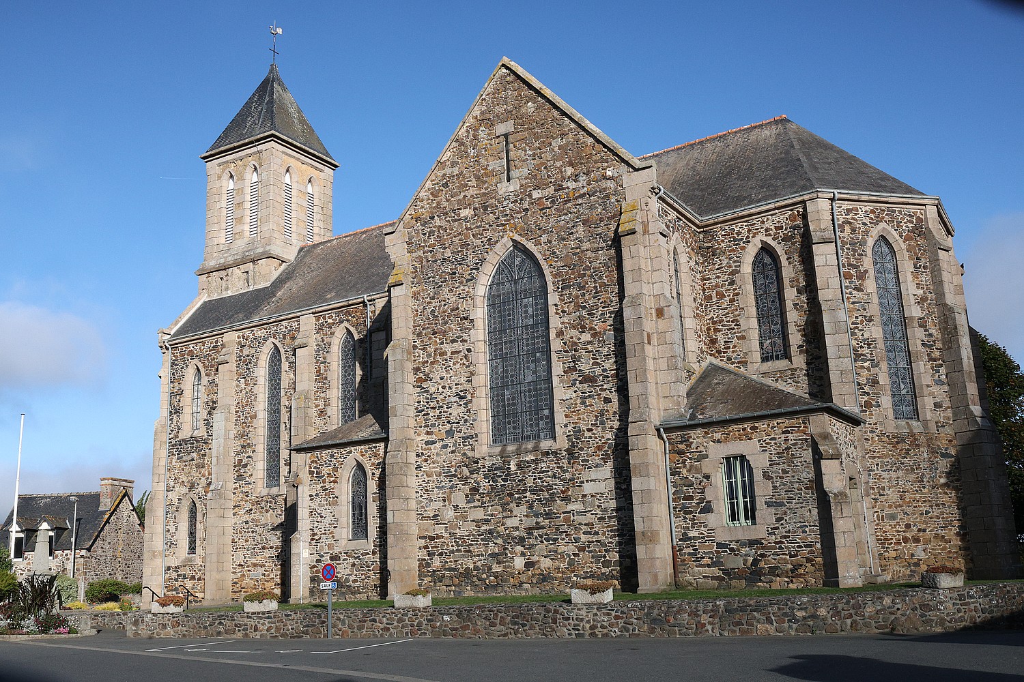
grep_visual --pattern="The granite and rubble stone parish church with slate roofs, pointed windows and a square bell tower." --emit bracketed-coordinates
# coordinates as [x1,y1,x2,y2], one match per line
[137,28,1024,610]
